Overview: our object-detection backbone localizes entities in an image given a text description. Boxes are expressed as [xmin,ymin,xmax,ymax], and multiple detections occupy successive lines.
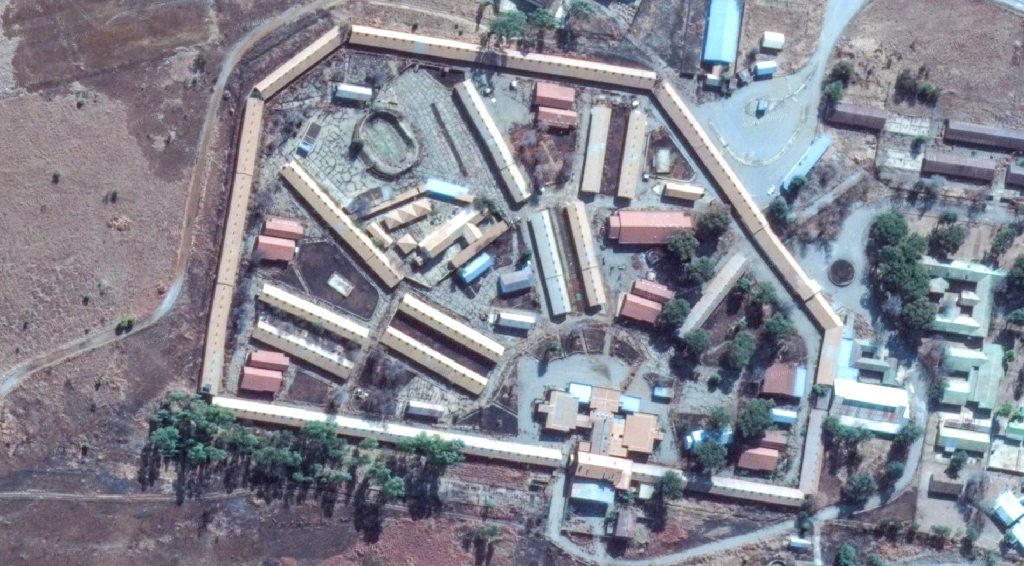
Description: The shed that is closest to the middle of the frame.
[500,268,533,294]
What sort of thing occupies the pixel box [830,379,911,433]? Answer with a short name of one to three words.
building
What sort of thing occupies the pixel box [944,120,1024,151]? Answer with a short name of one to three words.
shed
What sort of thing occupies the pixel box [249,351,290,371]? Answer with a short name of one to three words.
house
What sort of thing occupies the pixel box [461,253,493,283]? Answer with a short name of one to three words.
shed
